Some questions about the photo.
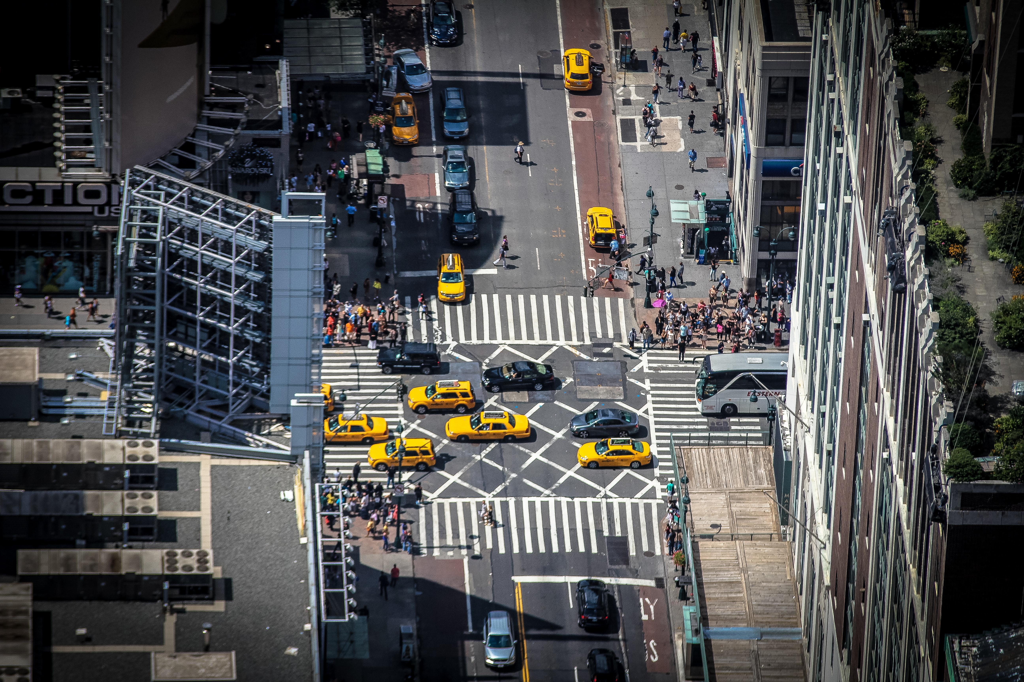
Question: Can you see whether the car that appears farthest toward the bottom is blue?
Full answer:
No, the car that appears farthest toward the bottom is actually black.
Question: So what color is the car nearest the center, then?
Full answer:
The car nearest the center is black.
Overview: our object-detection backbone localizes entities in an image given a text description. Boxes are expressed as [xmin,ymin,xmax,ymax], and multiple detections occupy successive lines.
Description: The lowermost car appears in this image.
[586,653,622,682]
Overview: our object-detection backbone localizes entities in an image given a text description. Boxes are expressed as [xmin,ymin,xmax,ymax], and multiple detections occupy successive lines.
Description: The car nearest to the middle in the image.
[480,364,556,395]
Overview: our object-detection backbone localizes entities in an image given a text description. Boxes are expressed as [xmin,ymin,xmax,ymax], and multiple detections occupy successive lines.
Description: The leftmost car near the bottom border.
[481,610,520,670]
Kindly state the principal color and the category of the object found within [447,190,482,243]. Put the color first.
black car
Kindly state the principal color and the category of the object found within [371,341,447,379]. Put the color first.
black car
